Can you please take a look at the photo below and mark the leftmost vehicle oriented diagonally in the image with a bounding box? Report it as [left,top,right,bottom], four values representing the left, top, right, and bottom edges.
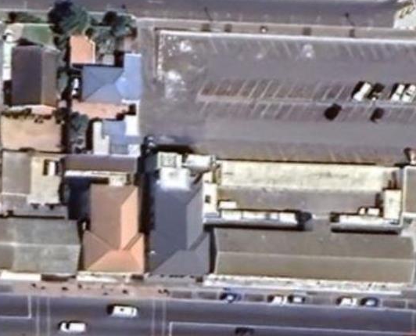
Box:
[325,101,342,122]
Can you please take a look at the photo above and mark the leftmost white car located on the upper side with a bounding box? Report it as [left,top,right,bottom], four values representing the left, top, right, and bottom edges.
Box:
[356,83,370,101]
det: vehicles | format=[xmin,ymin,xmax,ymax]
[220,293,241,302]
[325,101,342,122]
[370,105,385,123]
[360,298,380,307]
[368,83,382,102]
[390,84,406,102]
[60,322,85,331]
[270,295,288,303]
[338,298,357,306]
[356,83,370,101]
[289,295,307,305]
[407,149,416,167]
[110,306,135,315]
